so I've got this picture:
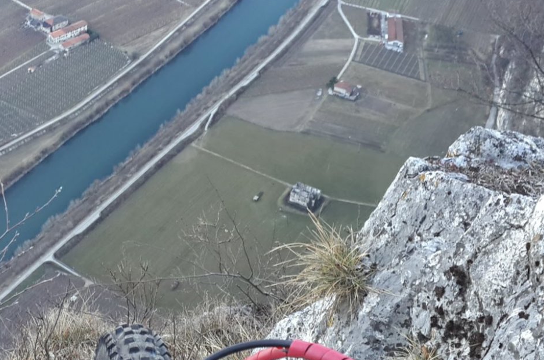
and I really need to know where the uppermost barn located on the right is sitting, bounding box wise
[385,14,405,52]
